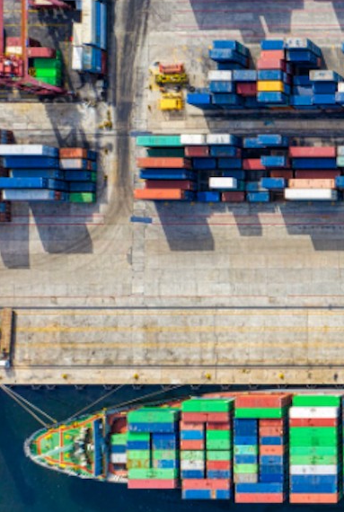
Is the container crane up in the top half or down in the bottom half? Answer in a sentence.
The top half of the photo is where the container crane is.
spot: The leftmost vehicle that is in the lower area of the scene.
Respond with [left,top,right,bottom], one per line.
[0,309,15,368]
